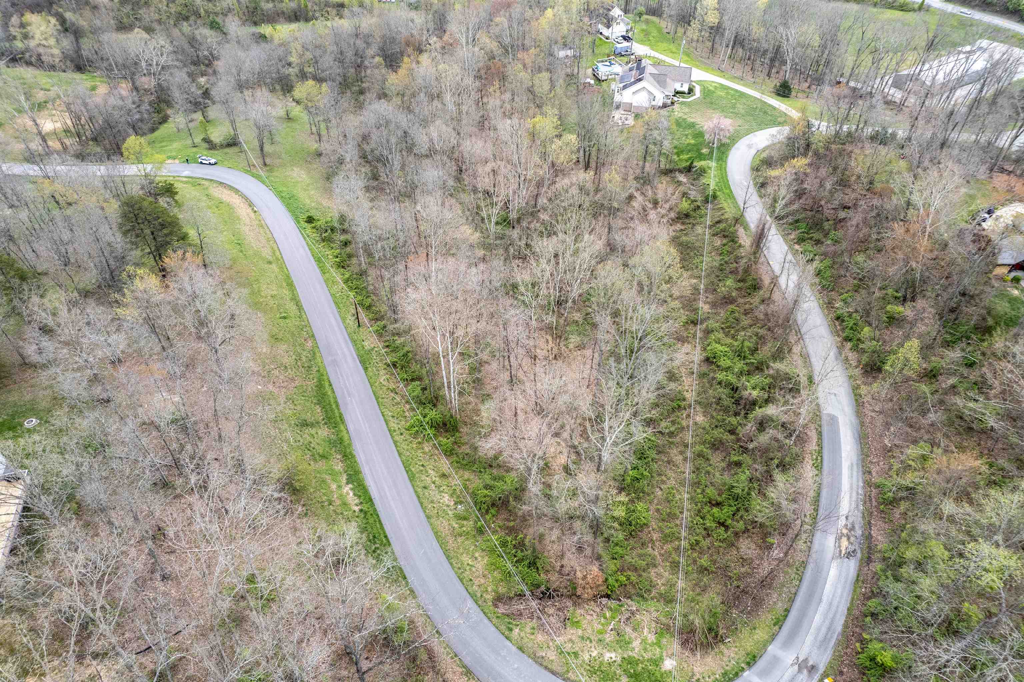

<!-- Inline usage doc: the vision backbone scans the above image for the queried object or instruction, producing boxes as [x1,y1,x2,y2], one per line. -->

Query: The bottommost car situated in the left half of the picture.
[191,150,218,165]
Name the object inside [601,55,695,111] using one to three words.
house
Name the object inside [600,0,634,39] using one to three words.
house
